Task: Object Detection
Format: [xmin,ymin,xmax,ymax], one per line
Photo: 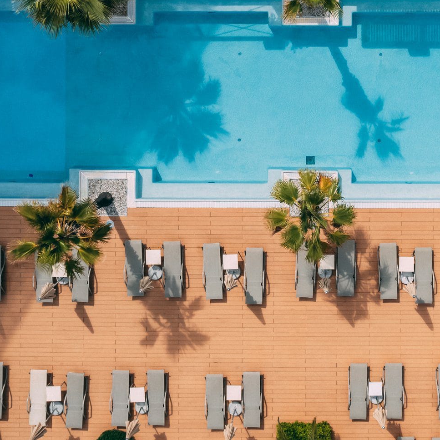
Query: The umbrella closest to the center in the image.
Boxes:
[222,267,241,293]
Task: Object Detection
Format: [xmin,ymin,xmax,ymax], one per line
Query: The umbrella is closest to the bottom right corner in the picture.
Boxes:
[369,394,386,431]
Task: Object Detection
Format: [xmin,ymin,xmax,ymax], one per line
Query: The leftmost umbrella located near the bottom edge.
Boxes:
[32,401,63,440]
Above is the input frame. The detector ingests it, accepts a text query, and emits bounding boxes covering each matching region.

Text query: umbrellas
[140,266,162,293]
[318,269,334,293]
[224,401,241,440]
[222,267,241,293]
[32,401,63,440]
[126,401,147,440]
[40,273,71,301]
[400,272,419,300]
[369,394,386,431]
